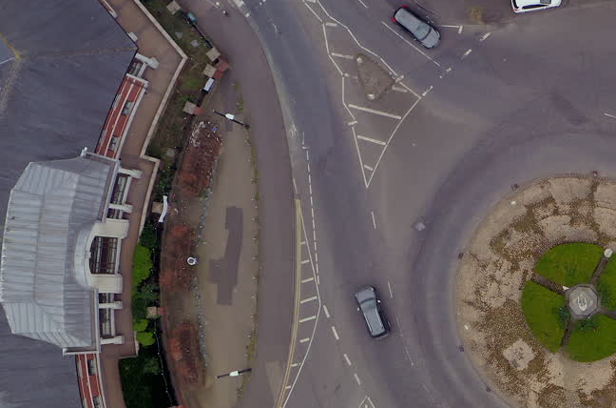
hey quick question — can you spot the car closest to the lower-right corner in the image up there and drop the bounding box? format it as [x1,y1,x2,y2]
[356,285,388,339]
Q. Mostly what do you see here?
paved ground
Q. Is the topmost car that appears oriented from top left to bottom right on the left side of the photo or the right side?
right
